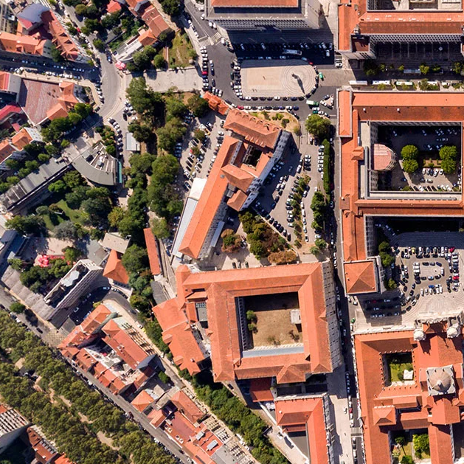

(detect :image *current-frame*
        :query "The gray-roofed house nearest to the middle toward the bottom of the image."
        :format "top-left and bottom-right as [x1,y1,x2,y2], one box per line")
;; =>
[150,281,172,304]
